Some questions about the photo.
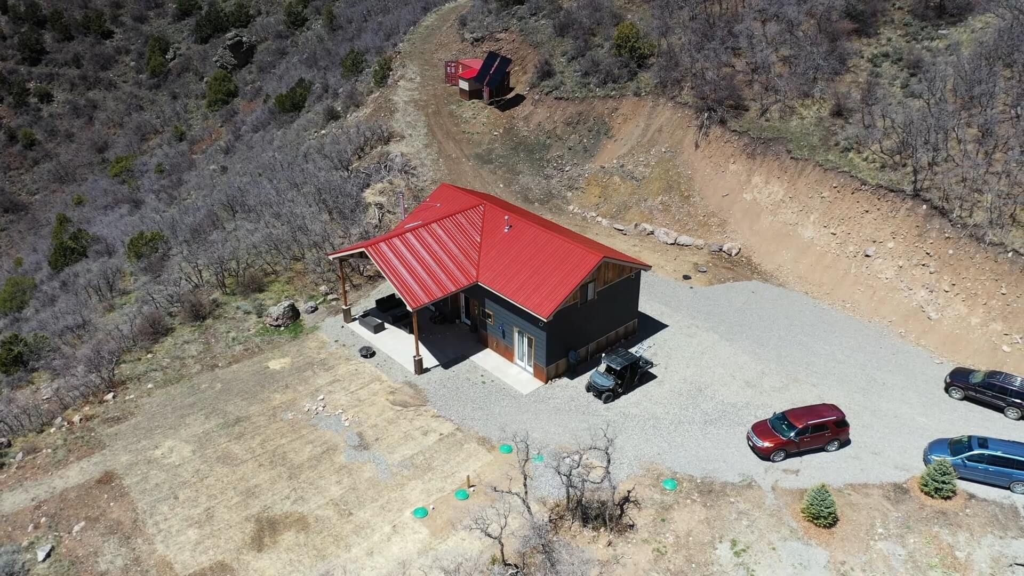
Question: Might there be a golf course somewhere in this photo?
No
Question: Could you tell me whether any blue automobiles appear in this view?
Yes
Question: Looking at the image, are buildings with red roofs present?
Yes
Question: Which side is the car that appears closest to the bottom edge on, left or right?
right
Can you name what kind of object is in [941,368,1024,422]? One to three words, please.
car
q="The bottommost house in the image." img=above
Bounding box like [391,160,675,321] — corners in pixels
[327,183,652,385]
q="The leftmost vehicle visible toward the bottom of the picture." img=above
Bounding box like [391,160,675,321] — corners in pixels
[588,344,652,400]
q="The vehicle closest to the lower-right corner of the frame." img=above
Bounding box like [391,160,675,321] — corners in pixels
[923,433,1024,494]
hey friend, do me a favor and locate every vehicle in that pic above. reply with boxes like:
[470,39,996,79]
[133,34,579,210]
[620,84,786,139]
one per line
[742,401,853,464]
[588,344,652,400]
[923,433,1024,494]
[941,368,1024,422]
